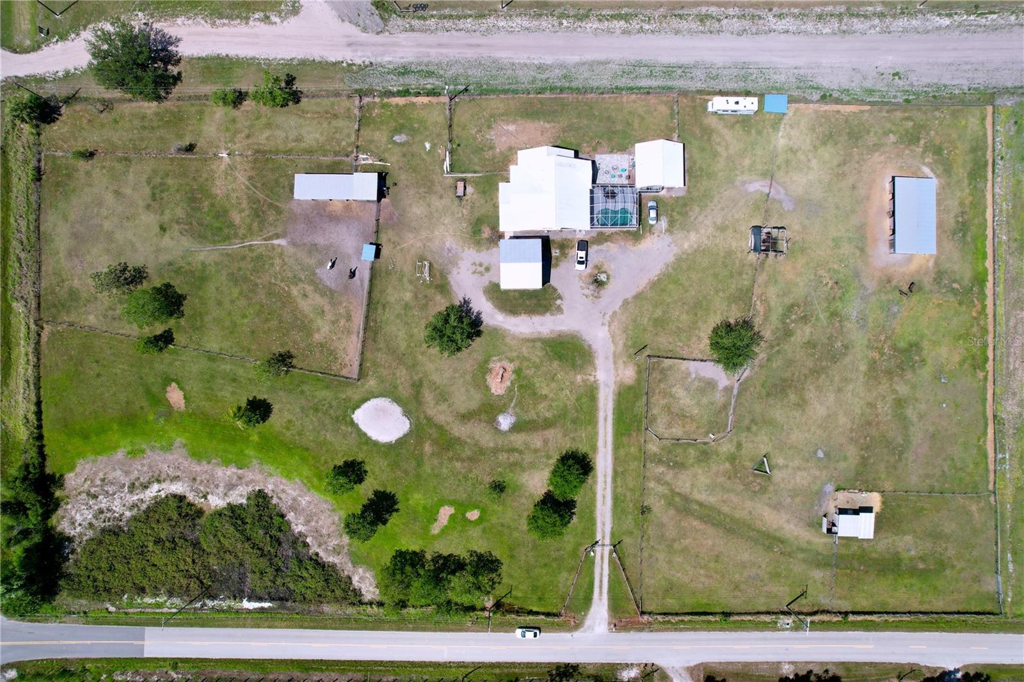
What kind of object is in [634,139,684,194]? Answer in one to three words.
house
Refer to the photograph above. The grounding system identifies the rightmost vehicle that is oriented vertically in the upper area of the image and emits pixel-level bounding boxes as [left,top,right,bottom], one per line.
[647,200,659,224]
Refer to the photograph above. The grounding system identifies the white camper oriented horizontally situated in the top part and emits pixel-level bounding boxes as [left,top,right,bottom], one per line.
[706,97,760,114]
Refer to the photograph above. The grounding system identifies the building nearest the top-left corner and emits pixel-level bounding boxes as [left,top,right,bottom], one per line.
[293,172,378,201]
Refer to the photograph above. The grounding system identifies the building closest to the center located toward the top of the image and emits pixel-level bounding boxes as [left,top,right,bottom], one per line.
[500,239,542,289]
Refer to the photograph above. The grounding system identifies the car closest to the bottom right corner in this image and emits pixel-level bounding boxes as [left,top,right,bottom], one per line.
[516,627,540,640]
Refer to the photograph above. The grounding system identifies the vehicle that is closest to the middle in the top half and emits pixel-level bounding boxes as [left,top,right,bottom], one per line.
[575,240,588,271]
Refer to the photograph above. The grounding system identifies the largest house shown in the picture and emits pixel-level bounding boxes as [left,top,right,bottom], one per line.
[499,145,593,235]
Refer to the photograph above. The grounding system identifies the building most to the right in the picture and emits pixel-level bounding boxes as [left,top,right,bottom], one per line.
[886,174,936,254]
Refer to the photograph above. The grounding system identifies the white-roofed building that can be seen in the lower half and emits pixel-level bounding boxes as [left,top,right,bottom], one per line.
[822,509,875,538]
